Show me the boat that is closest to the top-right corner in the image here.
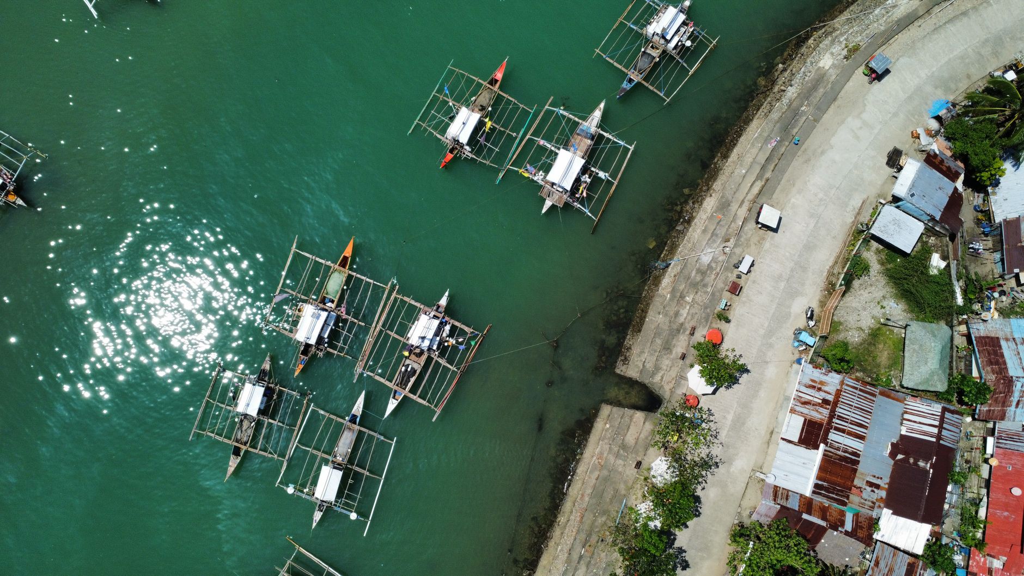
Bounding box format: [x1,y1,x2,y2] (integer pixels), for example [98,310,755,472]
[593,0,721,105]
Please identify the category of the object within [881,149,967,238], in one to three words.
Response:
house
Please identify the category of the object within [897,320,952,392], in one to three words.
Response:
shed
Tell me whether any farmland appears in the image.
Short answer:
No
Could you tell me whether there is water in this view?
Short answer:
Yes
